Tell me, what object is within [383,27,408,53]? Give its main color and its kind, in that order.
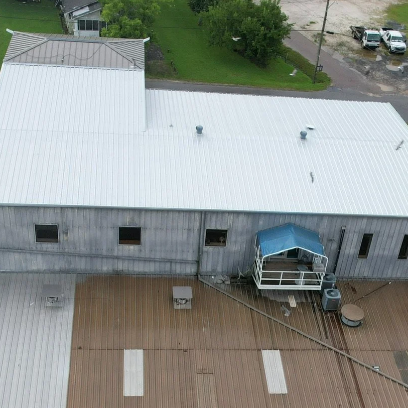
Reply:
white truck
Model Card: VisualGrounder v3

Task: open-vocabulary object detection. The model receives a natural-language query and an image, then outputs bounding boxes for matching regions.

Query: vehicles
[383,27,408,53]
[354,24,384,49]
